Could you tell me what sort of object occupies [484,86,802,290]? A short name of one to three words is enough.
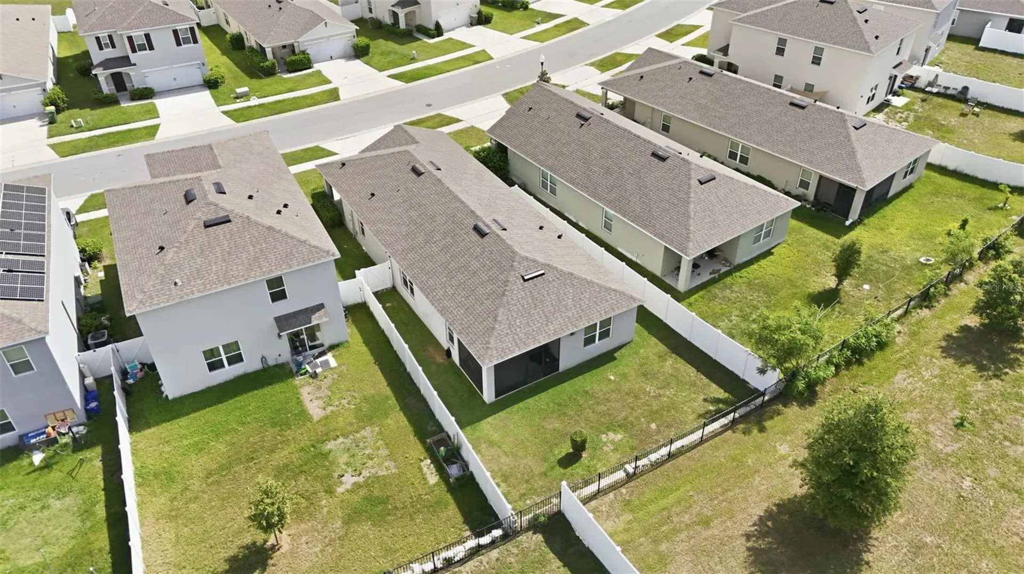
house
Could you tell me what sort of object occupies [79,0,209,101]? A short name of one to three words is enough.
house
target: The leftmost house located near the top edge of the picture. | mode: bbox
[0,3,57,118]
